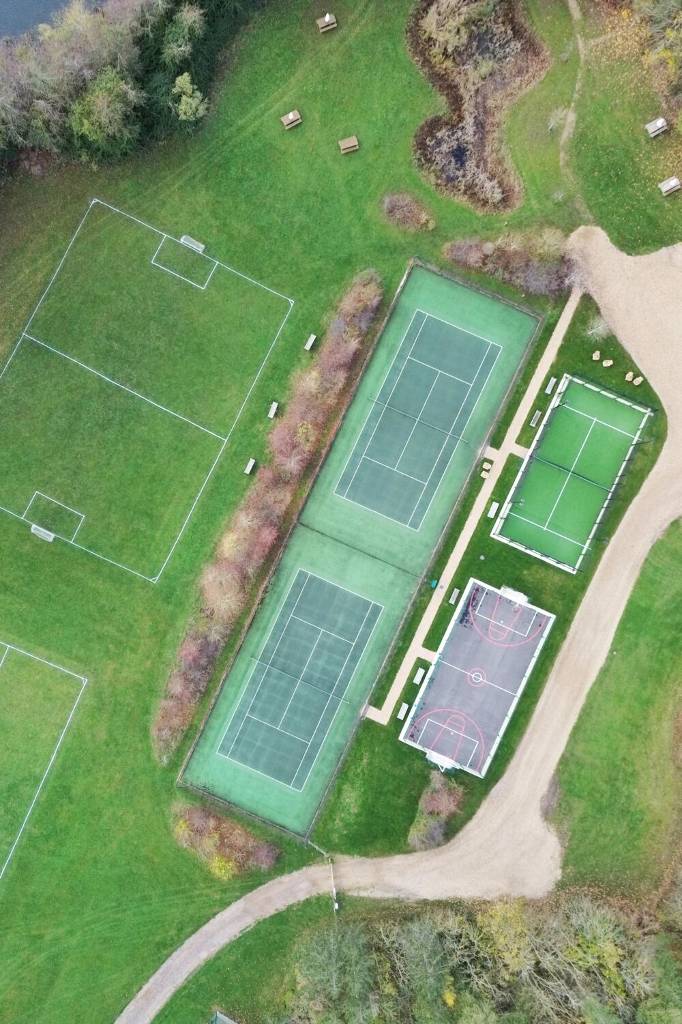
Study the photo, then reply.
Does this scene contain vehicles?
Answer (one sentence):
No, I find no vehicle anywhere in the image.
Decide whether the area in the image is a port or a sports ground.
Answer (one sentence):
The area seen from above is a sports ground.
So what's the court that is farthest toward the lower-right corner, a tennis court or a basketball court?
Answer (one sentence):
Looking closely, the court that is farthest toward the lower-right corner is a basketball court.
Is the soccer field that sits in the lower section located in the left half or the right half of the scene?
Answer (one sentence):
The soccer field that sits in the lower section sits on the left side.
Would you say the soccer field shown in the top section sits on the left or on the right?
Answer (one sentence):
It is on the left.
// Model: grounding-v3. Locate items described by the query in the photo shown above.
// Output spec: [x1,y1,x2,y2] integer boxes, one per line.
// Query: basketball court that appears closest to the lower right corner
[399,578,556,778]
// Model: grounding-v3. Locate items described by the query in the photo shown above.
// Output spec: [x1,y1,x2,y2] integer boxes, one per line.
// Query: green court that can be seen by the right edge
[493,371,660,573]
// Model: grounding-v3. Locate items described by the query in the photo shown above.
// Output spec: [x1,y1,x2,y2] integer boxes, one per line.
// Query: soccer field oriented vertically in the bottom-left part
[0,641,86,871]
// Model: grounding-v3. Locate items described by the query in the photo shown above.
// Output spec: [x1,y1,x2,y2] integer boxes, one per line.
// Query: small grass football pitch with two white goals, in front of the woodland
[0,200,293,582]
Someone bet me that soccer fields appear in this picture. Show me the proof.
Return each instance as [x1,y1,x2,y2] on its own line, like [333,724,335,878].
[0,200,293,582]
[0,641,86,871]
